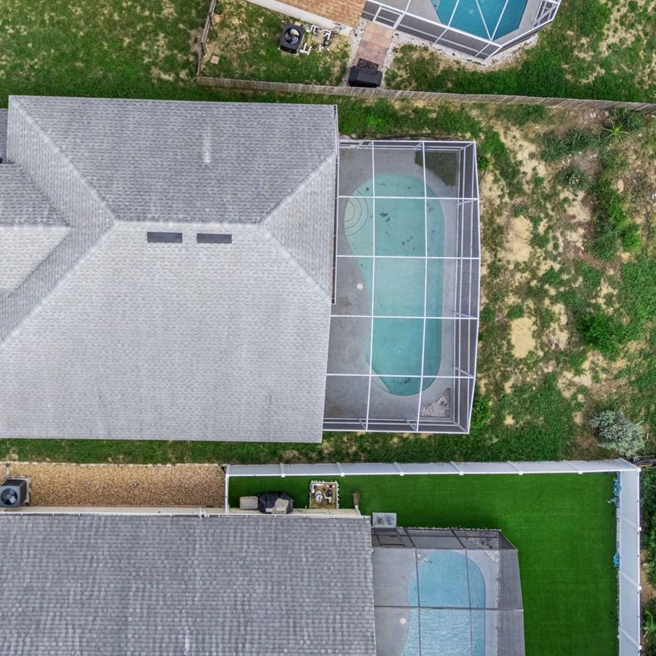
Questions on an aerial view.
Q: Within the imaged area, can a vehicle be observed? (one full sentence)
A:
No, the picture doesn't show any vehicle.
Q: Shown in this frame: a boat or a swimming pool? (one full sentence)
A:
This aerial view contains a swimming pool.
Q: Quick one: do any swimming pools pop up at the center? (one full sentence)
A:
Yes, a swimming pool appears at the center.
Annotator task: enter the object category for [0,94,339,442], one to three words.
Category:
house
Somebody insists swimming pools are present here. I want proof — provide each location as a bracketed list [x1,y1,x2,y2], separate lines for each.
[340,169,449,399]
[397,549,490,656]
[427,0,532,43]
